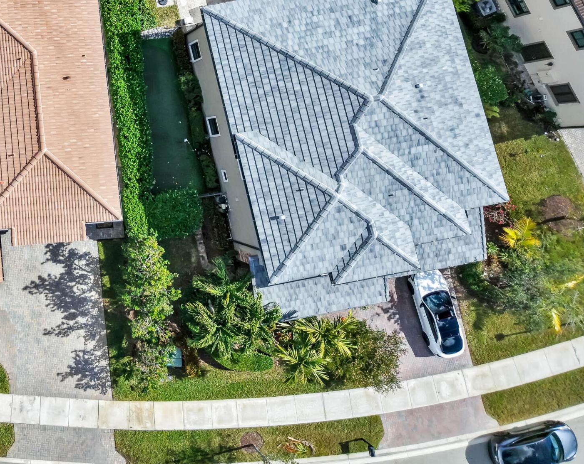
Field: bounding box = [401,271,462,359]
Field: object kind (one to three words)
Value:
car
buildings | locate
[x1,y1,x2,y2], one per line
[492,0,584,152]
[183,0,511,326]
[0,0,123,282]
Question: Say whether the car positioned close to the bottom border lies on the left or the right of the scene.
right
